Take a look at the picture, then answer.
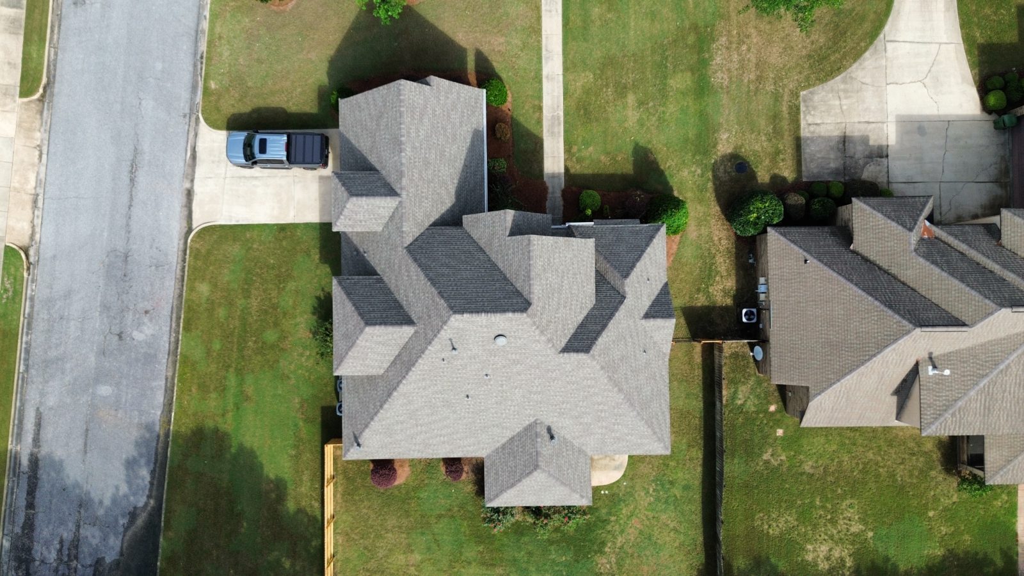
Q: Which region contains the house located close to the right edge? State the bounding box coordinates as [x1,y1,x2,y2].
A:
[759,109,1024,486]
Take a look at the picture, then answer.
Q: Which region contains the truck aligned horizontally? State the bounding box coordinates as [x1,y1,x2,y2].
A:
[226,127,333,170]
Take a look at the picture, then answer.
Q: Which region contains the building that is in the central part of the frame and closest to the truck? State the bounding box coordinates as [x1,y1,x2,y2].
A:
[331,76,674,508]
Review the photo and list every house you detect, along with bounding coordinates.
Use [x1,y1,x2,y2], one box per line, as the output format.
[759,109,1024,486]
[331,76,674,508]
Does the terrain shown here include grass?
Yes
